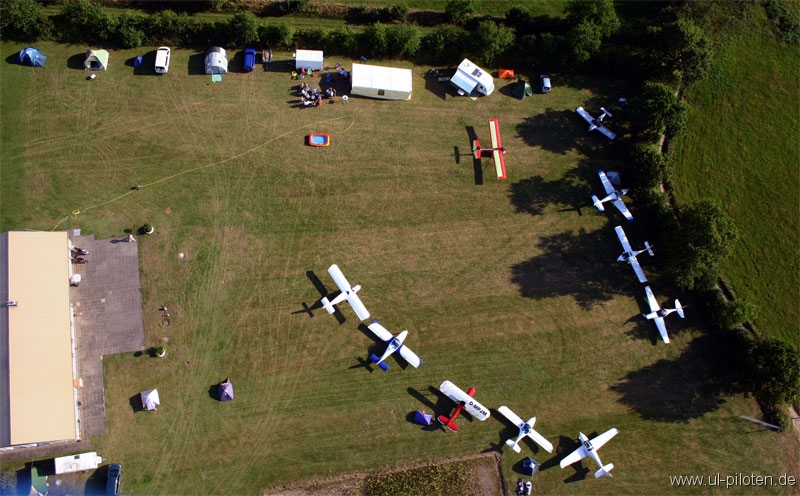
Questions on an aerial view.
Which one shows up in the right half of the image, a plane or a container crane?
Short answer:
plane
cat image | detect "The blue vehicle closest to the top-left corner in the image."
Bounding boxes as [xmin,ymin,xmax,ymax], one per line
[241,48,254,71]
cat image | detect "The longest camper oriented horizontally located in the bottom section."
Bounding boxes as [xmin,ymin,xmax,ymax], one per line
[55,455,114,481]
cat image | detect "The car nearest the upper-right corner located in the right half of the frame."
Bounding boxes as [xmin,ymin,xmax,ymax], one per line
[538,76,552,96]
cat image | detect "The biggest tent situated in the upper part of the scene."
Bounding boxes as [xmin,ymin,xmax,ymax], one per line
[349,65,412,102]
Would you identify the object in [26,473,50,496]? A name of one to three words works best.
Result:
tent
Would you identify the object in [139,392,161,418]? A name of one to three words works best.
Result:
tent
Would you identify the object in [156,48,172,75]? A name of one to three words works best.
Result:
vehicle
